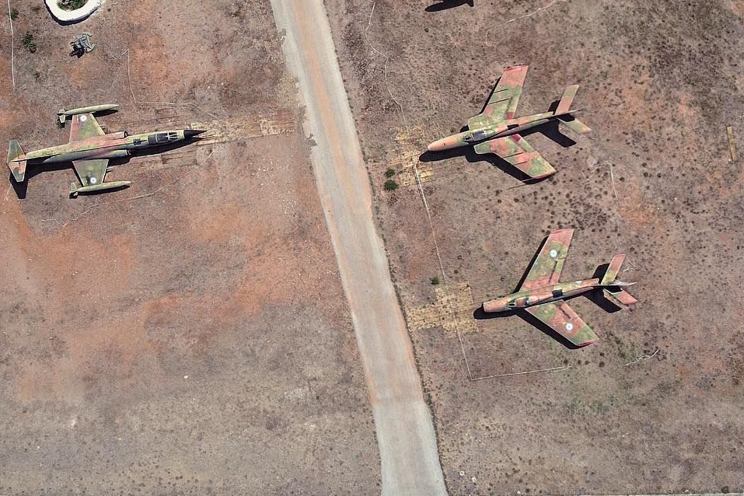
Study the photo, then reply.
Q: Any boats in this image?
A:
No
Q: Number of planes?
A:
three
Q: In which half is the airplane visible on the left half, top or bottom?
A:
top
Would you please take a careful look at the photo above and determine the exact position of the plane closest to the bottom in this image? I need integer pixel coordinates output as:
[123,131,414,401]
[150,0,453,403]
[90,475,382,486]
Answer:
[482,224,636,344]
